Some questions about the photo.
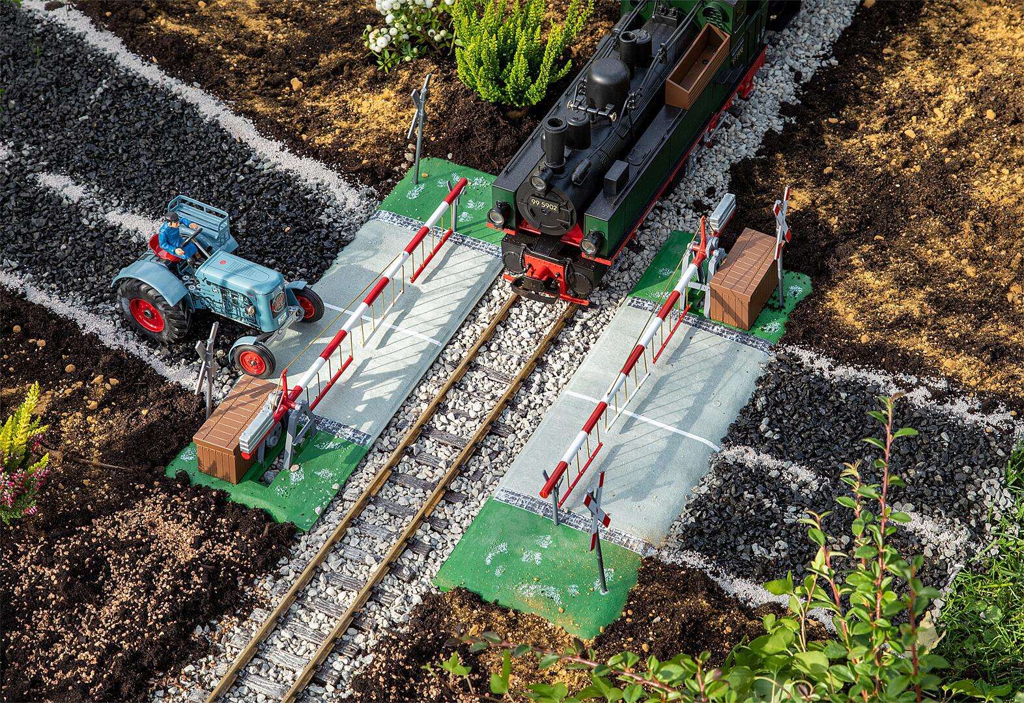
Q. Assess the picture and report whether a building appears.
No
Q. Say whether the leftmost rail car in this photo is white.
No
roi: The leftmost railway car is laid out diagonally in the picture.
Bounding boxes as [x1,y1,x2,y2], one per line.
[486,0,768,312]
